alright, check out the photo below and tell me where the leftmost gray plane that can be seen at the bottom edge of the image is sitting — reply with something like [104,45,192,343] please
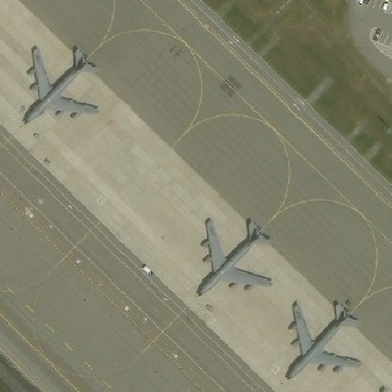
[287,302,362,378]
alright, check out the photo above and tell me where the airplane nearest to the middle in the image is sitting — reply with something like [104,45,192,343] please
[199,220,273,295]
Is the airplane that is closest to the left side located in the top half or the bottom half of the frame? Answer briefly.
top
